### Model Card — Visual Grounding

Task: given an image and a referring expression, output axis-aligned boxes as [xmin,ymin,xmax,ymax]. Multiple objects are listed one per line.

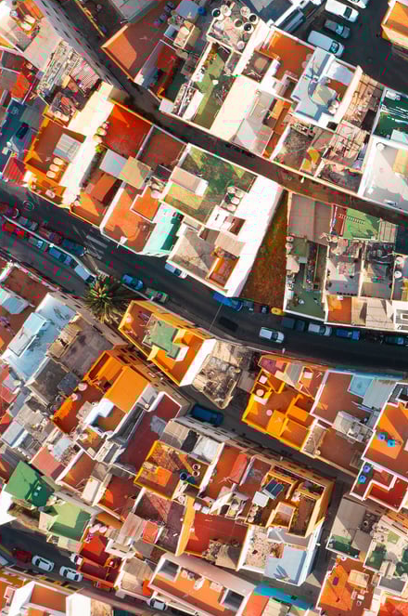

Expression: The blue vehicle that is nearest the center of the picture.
[213,290,241,311]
